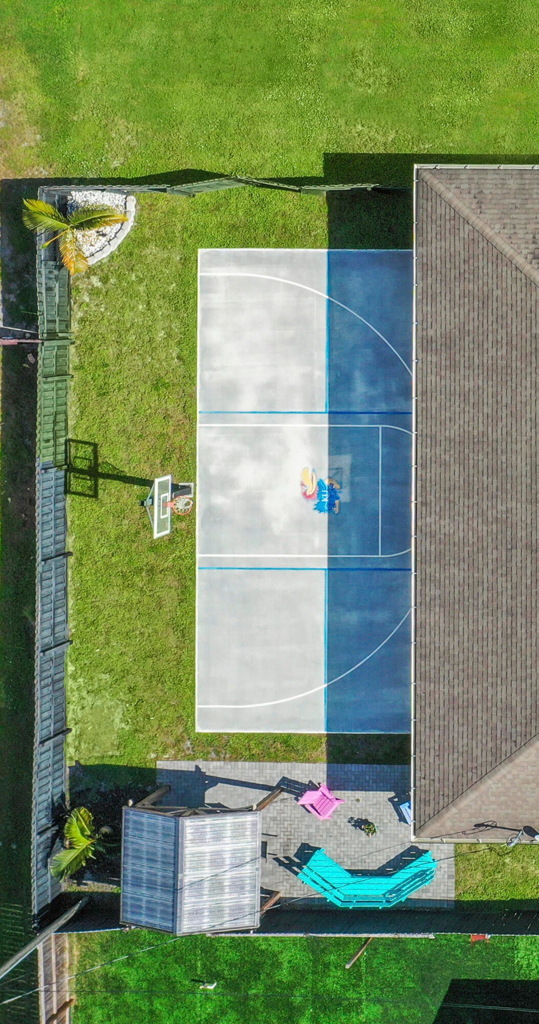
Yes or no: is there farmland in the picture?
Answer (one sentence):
No, the picture contains no farmland.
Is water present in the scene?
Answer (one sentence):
No, there is no water in the image.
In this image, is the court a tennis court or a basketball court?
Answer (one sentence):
What you see as the court is a basketball court.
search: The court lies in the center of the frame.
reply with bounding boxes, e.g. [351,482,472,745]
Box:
[196,248,412,733]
